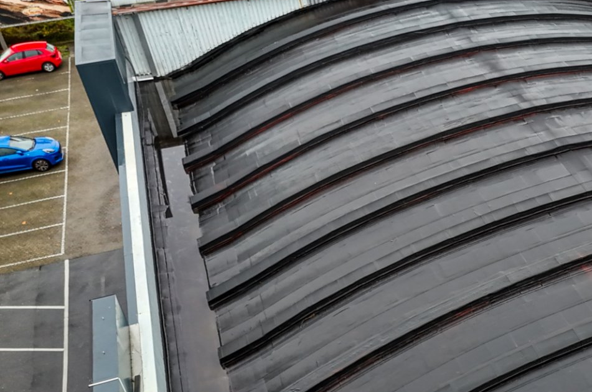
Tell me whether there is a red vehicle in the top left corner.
Yes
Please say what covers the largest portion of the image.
buildings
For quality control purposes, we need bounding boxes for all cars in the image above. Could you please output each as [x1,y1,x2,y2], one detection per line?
[0,40,60,78]
[0,134,64,176]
